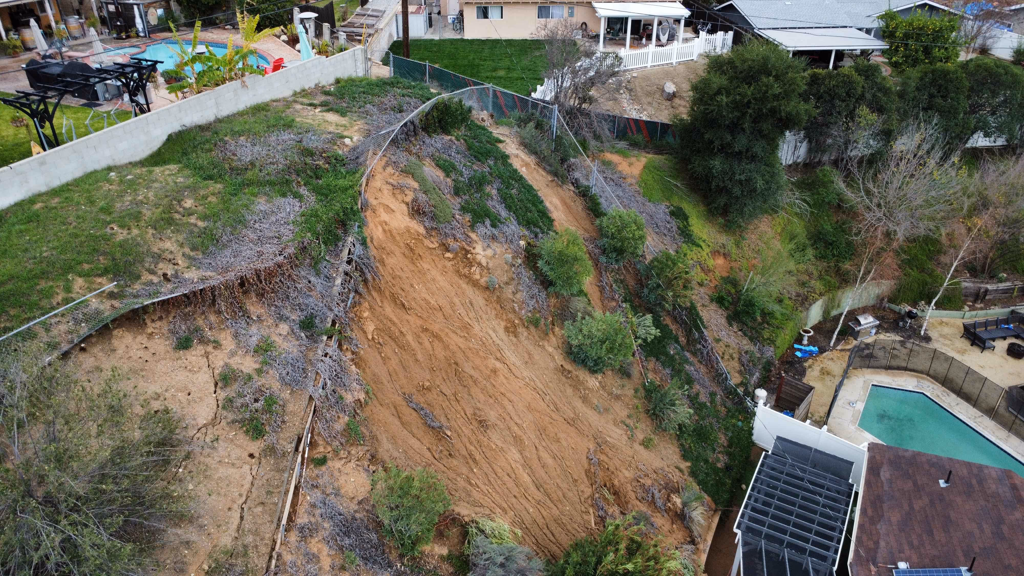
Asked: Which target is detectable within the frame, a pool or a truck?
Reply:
pool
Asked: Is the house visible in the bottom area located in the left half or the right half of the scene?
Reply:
right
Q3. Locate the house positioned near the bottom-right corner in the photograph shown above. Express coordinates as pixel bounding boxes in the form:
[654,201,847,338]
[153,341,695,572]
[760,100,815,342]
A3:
[840,440,1024,576]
